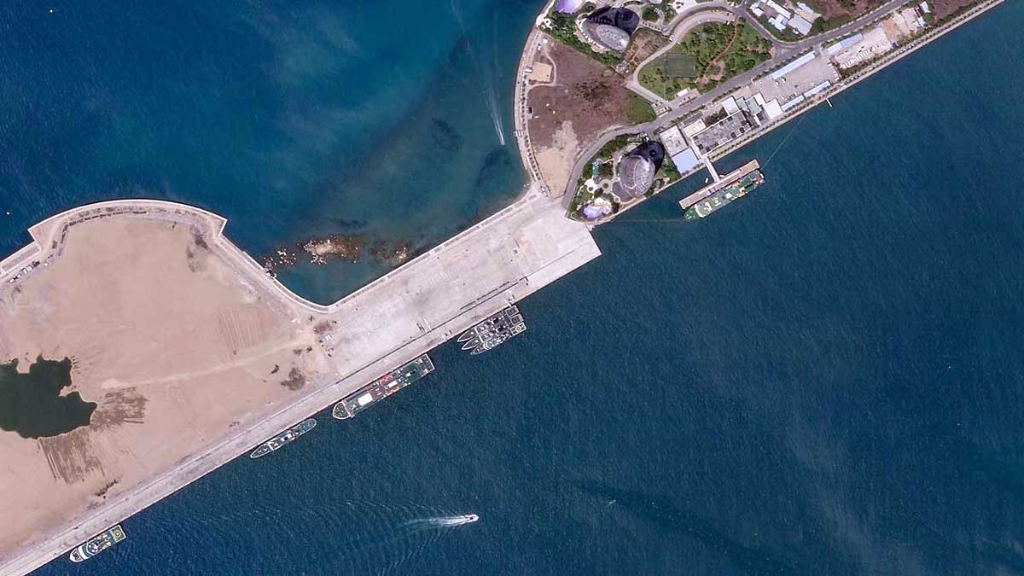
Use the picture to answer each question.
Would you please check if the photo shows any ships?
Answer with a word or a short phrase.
Yes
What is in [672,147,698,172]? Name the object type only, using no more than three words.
building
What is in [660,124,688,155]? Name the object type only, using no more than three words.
building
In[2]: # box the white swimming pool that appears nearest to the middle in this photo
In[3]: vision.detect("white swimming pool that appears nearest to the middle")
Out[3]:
[581,197,612,219]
